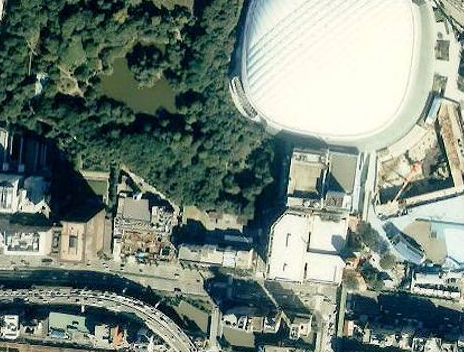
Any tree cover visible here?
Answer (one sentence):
Yes, the picture does contain tree cover.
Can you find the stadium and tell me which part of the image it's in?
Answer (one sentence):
The stadium is in the top right part of the image.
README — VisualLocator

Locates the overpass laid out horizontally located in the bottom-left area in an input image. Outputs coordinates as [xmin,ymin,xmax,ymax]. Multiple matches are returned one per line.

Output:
[0,287,192,352]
